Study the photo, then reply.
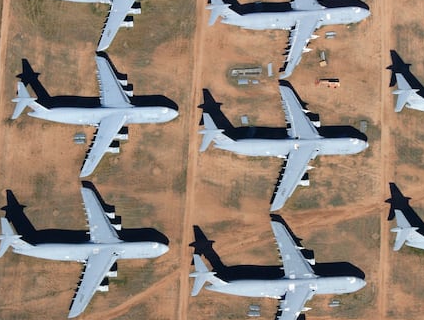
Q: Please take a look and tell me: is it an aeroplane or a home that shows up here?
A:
aeroplane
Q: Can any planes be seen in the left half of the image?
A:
Yes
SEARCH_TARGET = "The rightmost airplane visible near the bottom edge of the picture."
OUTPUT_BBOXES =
[189,223,367,320]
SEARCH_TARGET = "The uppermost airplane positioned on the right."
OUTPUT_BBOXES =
[206,0,370,79]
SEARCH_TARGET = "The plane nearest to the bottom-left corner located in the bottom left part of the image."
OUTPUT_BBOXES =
[0,188,170,318]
